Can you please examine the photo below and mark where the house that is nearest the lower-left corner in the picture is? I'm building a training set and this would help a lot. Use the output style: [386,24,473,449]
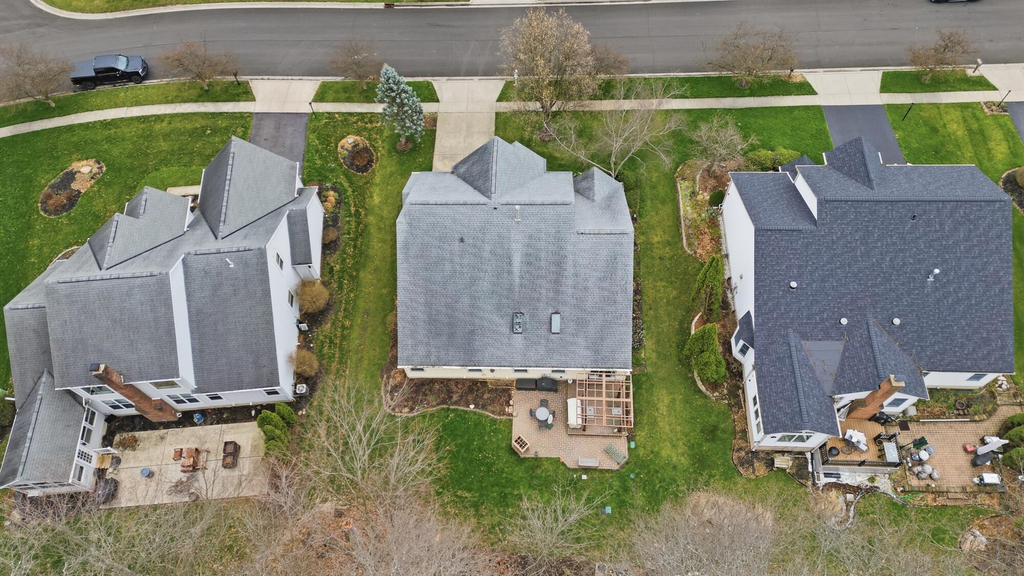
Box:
[0,137,321,495]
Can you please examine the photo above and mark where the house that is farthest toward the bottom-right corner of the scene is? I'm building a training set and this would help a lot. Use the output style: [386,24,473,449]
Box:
[707,138,1014,470]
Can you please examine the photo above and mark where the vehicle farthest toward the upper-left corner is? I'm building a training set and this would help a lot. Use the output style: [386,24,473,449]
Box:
[67,53,151,93]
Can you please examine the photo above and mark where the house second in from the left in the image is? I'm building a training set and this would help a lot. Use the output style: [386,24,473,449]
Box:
[396,137,633,380]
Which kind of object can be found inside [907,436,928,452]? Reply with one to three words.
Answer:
umbrella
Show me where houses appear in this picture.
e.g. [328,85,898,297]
[396,137,633,380]
[707,138,1014,470]
[0,137,321,495]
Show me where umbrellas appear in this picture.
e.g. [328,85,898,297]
[545,417,554,430]
[973,437,1013,457]
[907,436,928,452]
